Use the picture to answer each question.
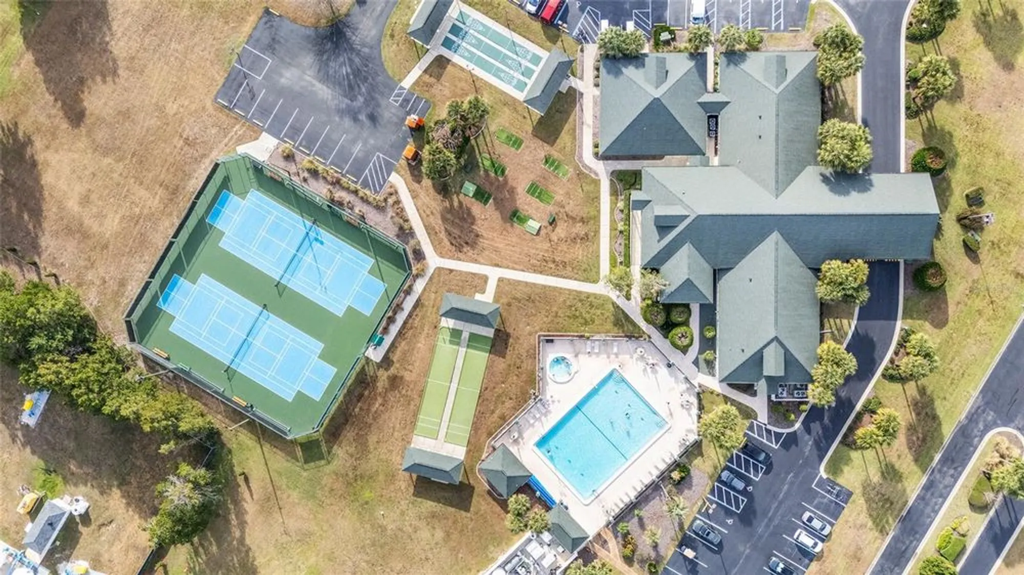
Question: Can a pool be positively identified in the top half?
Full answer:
No, no pool appears in the top half.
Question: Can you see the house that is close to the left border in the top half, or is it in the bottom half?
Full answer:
Seen from above, the house that is close to the left border lies in the bottom half of the view.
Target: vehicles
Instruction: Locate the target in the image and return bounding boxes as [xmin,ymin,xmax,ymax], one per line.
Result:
[736,439,775,468]
[715,468,749,495]
[525,0,543,13]
[678,543,697,561]
[798,511,833,537]
[402,113,428,130]
[538,0,564,27]
[690,519,724,546]
[763,553,804,575]
[790,528,824,554]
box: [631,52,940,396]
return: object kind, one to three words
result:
building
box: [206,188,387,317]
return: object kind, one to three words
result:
sports court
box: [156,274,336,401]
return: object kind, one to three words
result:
sports court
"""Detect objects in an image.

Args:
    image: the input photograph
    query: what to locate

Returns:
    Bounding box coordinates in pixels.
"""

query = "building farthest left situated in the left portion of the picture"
[23,497,71,556]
